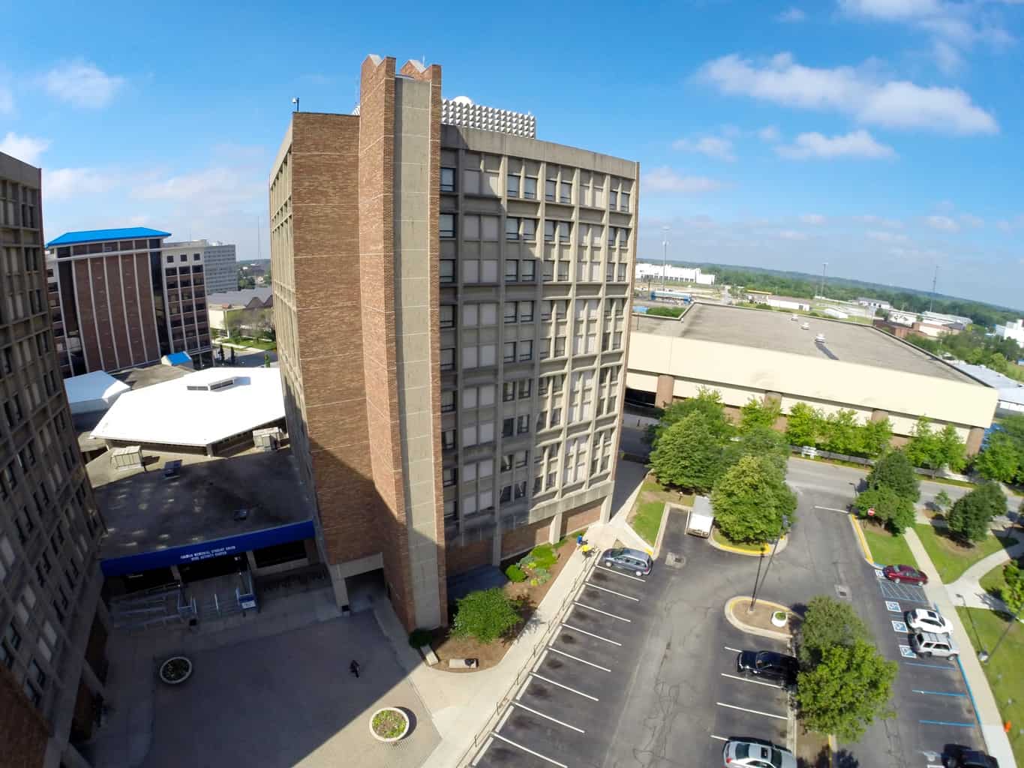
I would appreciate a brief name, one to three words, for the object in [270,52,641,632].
building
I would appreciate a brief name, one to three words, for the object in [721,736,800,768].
car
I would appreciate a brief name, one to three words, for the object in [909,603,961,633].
car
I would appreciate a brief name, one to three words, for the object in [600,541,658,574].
vehicle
